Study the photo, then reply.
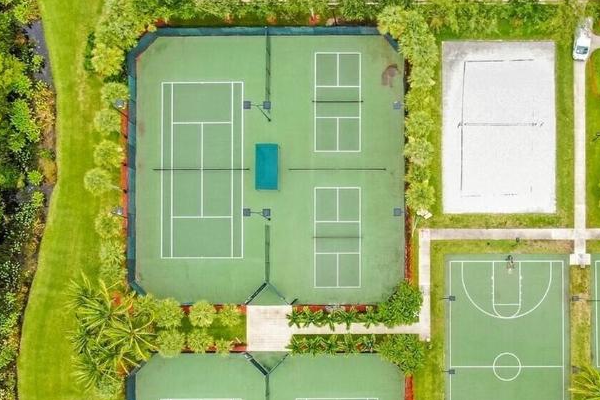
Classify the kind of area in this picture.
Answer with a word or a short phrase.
sports ground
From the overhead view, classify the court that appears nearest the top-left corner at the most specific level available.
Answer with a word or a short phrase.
tennis court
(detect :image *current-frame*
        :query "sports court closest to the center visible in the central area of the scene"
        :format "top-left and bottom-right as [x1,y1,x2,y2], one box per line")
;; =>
[312,187,363,288]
